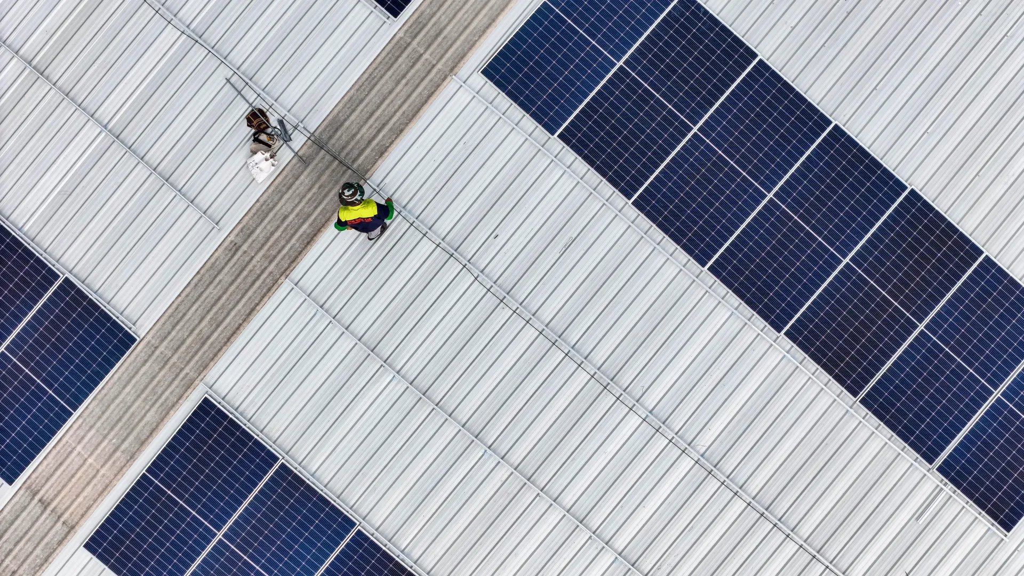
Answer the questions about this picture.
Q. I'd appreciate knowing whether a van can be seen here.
No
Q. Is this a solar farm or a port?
solar farm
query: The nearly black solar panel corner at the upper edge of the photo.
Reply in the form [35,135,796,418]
[370,0,413,22]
